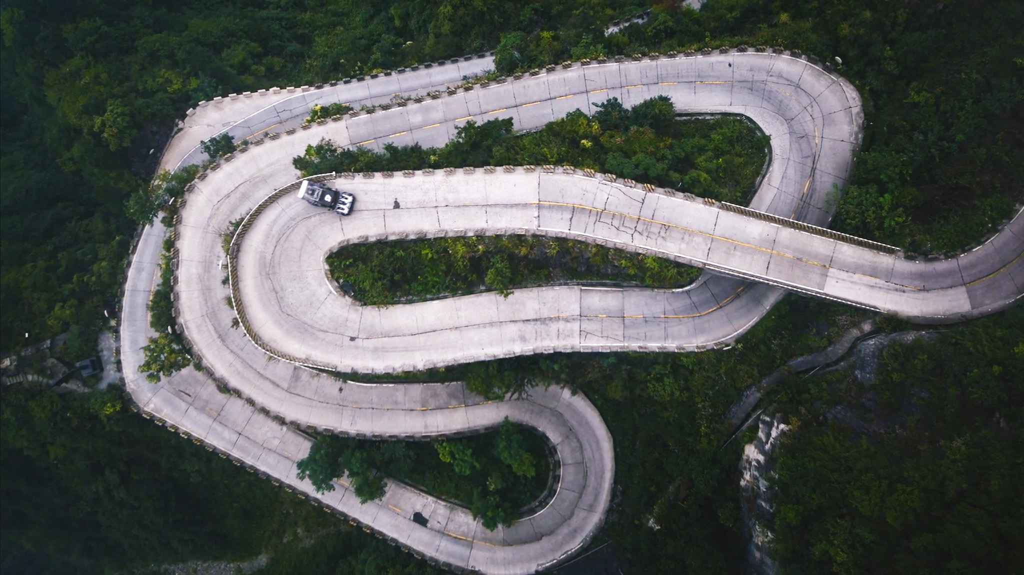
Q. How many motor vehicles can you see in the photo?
1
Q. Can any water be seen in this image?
No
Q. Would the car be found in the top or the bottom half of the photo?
top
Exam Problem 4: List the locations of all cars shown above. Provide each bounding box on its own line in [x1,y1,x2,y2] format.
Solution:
[294,177,355,214]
